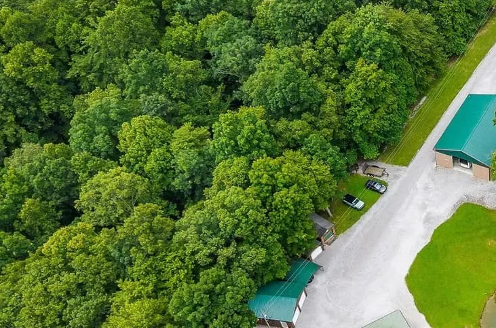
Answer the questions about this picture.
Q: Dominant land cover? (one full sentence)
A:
The largest share of the image is taken up by trees.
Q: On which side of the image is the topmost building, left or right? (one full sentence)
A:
The topmost building appears in the right half of the scene.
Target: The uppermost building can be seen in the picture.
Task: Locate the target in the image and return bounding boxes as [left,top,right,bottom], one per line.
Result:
[434,94,496,180]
